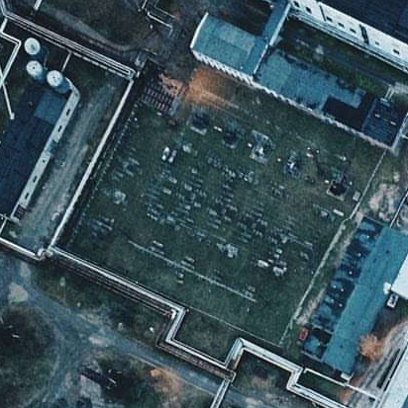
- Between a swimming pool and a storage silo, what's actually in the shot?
storage silo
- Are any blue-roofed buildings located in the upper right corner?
Yes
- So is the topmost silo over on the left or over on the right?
left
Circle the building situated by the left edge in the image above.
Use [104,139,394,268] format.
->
[0,90,73,218]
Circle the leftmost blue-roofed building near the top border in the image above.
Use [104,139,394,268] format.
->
[192,14,258,79]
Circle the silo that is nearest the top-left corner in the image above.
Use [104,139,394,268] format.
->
[24,38,51,65]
